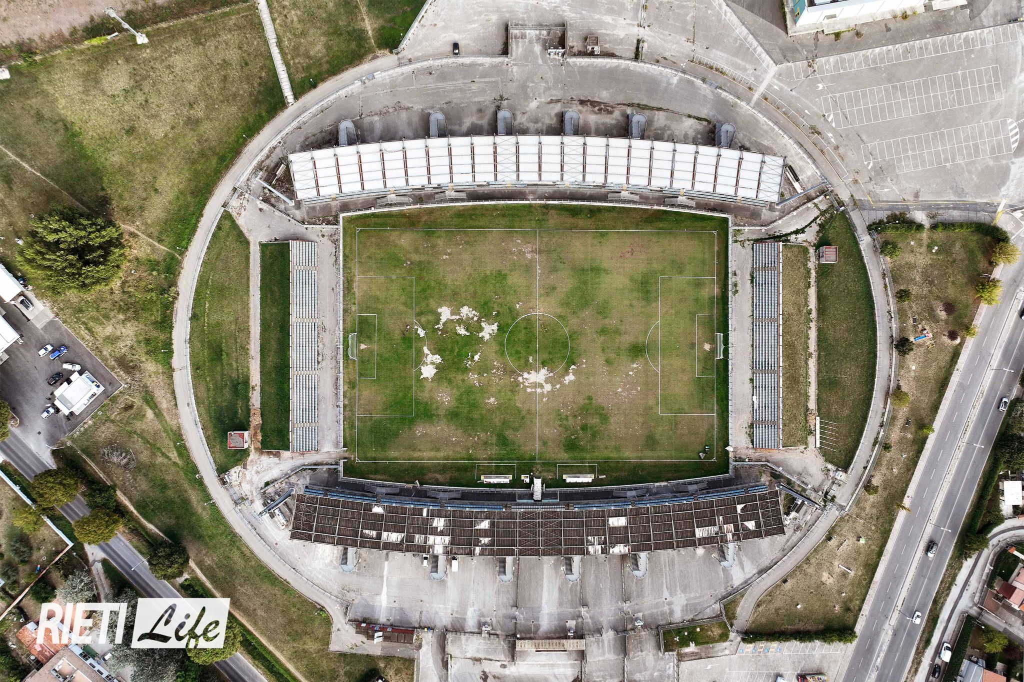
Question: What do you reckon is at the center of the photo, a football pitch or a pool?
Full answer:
Looking at the center of the photo, you will find a football pitch.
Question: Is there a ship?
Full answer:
No, there appears to be no ship in this shot.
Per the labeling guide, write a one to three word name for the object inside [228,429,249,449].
shed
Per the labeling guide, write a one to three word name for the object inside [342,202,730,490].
soccer field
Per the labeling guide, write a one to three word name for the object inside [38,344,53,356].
vehicle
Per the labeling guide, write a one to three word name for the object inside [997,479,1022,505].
building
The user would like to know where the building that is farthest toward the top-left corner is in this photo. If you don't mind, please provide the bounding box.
[0,258,32,302]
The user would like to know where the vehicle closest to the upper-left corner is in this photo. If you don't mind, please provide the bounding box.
[19,296,33,310]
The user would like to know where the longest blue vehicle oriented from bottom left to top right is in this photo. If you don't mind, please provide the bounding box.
[49,346,68,360]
